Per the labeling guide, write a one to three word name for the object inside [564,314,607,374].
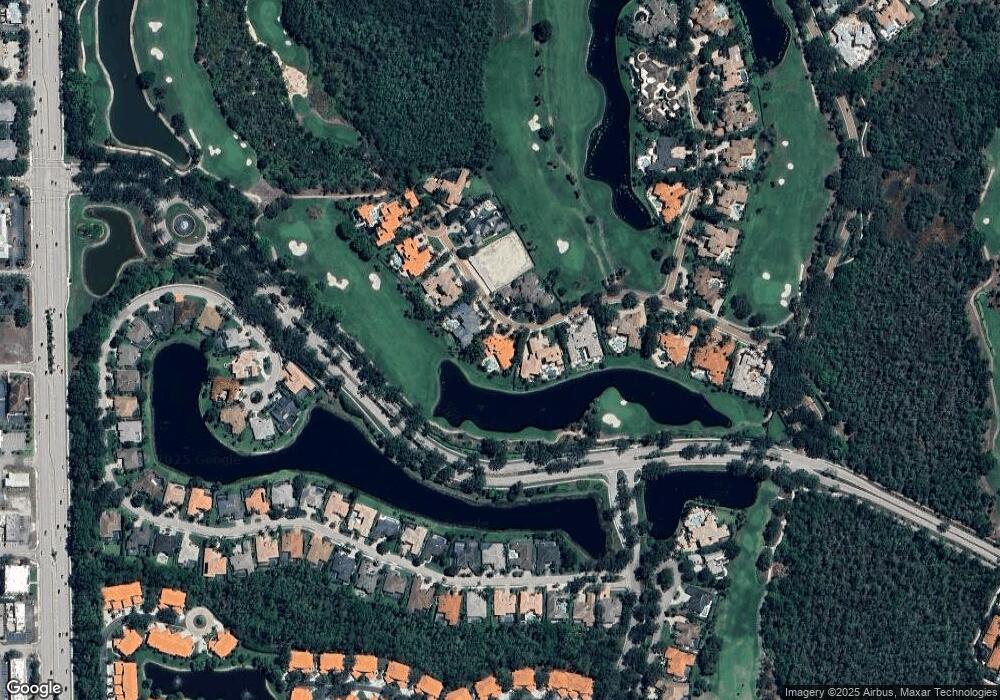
house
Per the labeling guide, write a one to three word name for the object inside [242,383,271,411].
roundabout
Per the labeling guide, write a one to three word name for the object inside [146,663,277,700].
pond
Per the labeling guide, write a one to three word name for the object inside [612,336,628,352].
swimming pool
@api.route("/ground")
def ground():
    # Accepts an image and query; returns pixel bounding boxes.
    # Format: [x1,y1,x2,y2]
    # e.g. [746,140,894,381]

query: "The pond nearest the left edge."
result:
[83,206,142,296]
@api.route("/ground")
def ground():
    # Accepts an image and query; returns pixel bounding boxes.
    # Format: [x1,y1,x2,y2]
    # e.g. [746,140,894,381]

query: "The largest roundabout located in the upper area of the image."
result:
[158,196,214,252]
